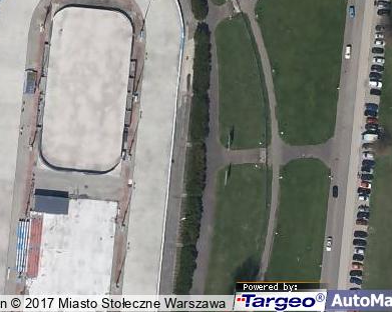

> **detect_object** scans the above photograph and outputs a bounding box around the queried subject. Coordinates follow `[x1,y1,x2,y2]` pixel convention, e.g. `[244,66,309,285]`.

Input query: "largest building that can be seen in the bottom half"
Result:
[33,196,69,216]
